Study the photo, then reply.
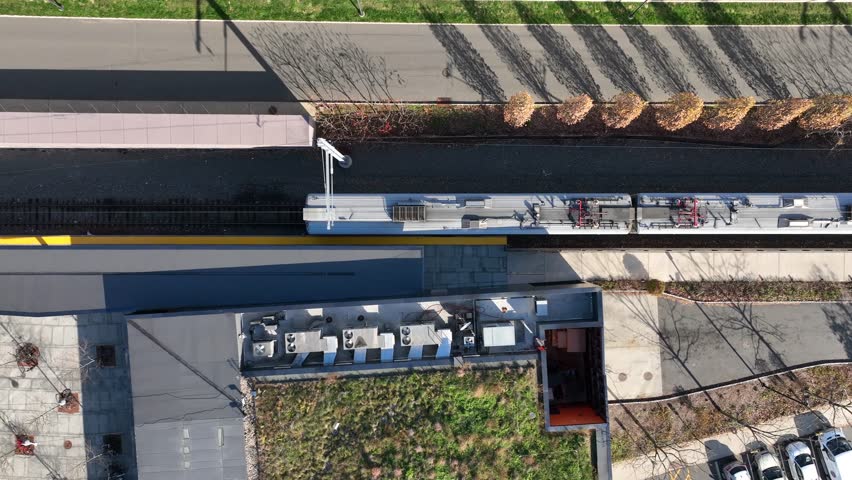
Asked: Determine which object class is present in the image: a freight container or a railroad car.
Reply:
railroad car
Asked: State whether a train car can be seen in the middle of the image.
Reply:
Yes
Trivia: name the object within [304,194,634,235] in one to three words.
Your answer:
rail car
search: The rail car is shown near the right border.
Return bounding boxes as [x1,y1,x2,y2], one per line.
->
[627,194,852,235]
